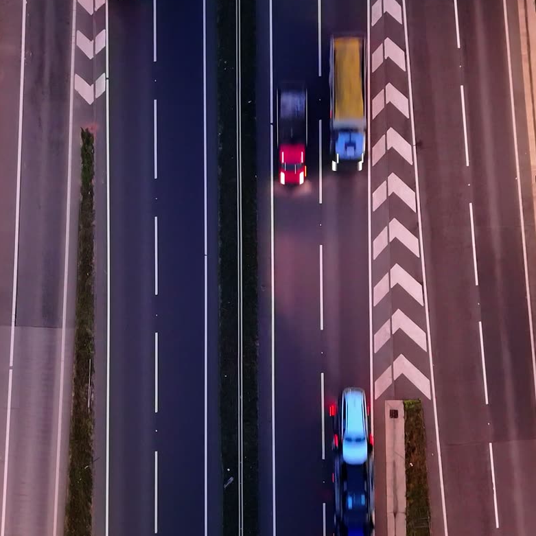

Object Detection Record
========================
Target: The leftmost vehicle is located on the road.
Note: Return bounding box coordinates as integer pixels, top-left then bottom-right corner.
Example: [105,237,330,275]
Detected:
[277,91,308,184]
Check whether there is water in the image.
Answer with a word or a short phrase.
No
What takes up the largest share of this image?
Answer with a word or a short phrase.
paved ground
